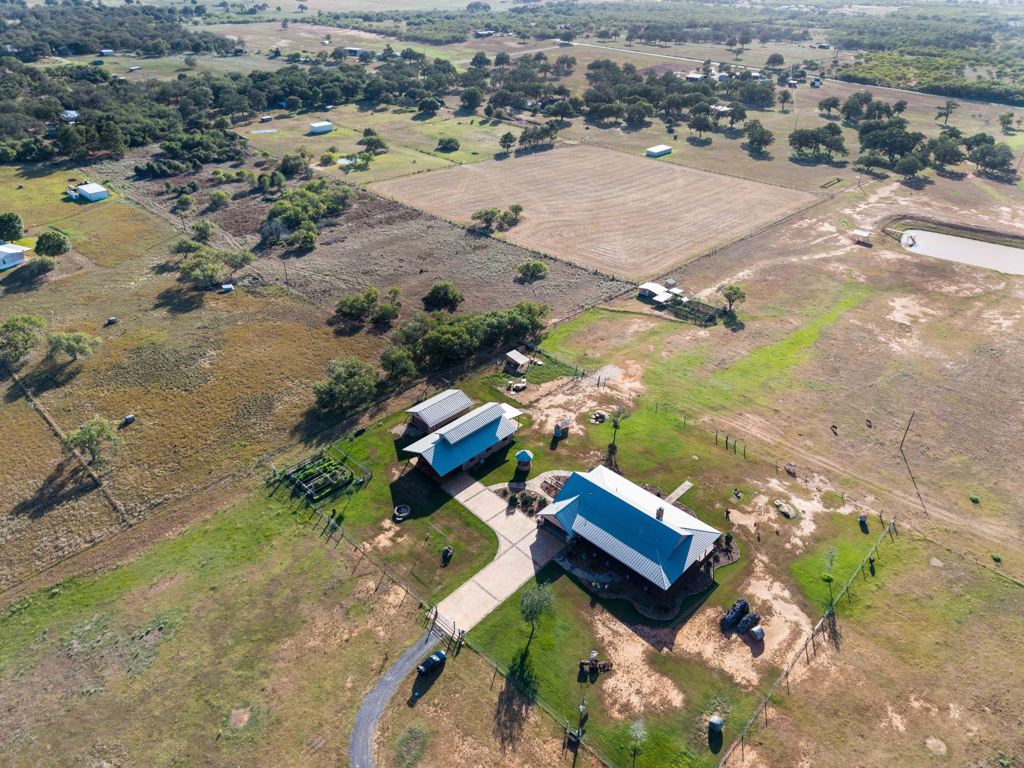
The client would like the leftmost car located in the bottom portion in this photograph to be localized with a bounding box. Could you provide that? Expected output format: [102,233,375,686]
[413,651,447,678]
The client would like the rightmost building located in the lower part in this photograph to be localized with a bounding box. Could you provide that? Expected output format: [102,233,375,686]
[535,464,722,600]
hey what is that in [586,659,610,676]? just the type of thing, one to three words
work vehicle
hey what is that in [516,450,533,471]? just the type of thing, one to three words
gazebo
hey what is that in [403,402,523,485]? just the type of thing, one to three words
building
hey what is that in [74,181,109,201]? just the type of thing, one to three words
building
